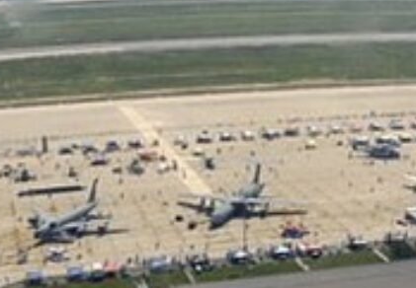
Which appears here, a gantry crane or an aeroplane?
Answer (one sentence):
There is an aeroplane in the scene.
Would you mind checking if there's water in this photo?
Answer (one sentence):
No, no water is visible.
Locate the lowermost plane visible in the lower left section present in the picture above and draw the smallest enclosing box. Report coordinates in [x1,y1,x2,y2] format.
[23,187,123,246]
